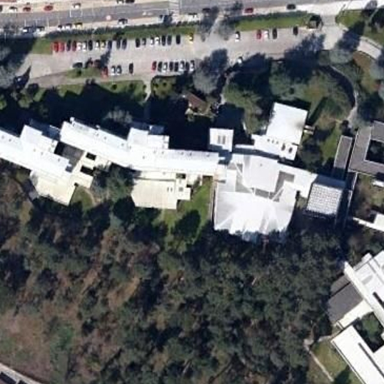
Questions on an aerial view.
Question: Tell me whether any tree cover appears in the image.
Yes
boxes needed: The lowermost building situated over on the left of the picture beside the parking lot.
[0,117,227,209]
